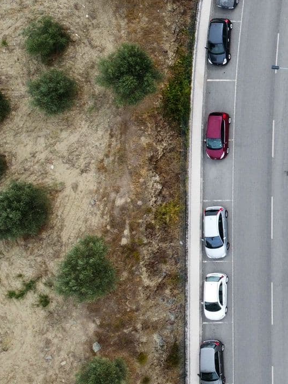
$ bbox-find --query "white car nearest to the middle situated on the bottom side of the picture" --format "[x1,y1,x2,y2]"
[201,207,231,260]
